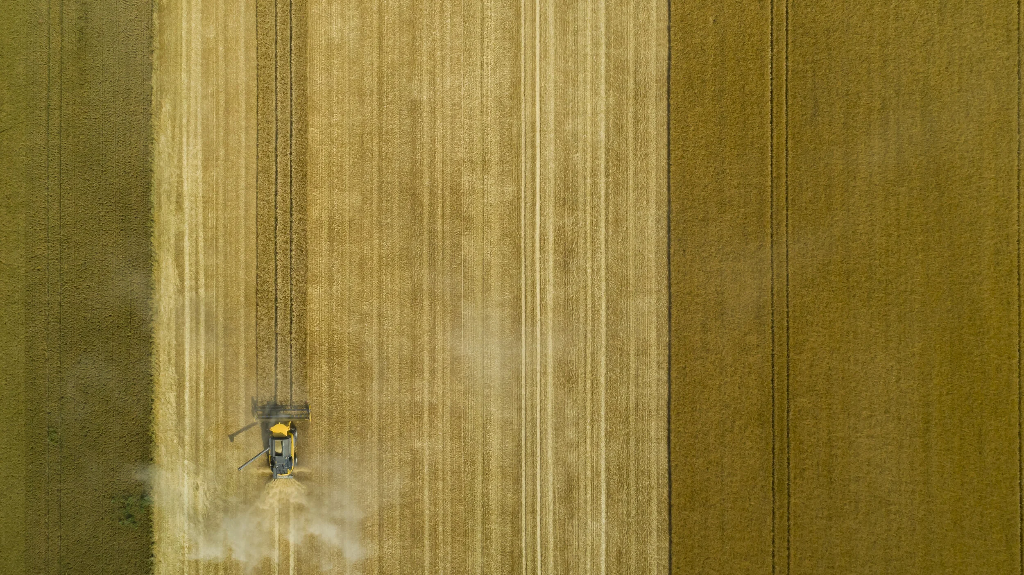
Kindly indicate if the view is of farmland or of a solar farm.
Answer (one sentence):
The area seen from above is farmland.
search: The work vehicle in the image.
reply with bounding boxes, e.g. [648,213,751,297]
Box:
[238,400,312,481]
